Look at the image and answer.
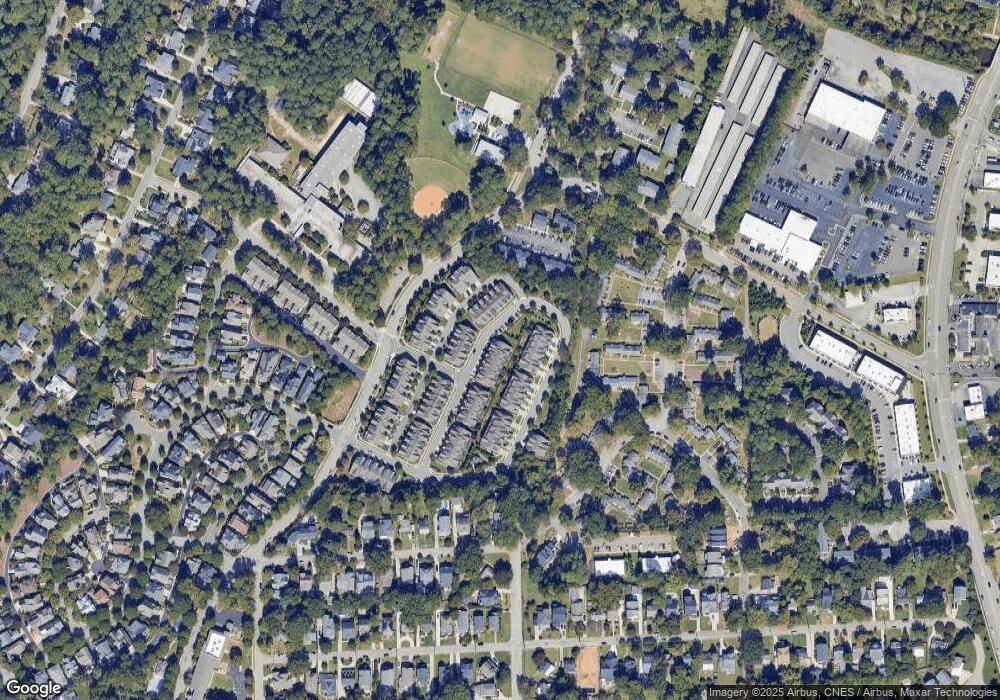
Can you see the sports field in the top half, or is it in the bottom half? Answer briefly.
top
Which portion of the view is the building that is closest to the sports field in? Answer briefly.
top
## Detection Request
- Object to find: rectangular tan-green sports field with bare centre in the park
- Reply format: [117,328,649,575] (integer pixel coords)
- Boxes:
[446,14,556,102]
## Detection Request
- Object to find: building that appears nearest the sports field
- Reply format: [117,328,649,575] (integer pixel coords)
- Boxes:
[484,92,521,123]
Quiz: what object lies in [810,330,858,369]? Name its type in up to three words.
building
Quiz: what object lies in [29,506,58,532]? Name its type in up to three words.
house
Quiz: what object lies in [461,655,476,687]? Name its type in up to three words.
house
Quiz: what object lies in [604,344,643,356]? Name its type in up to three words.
building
